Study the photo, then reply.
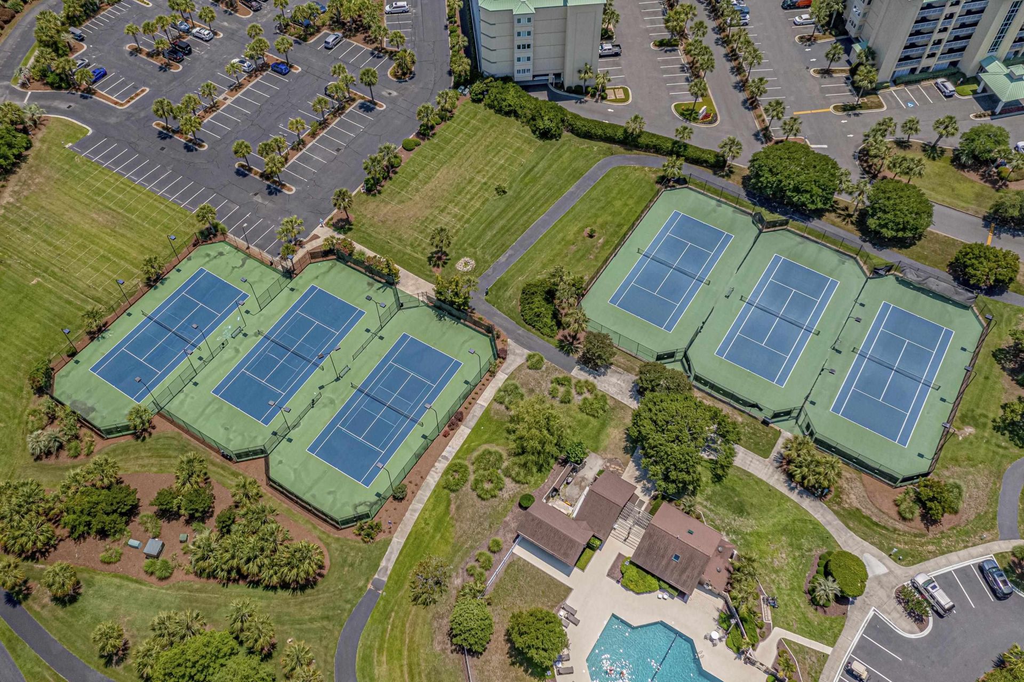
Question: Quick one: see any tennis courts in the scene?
Yes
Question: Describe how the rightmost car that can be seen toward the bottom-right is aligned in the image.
on a diagonal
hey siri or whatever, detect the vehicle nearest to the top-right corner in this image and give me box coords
[937,76,962,95]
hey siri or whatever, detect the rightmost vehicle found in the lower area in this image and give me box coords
[982,556,1018,596]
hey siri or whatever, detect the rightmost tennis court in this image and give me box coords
[796,275,982,488]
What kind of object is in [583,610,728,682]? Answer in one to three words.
swimming pool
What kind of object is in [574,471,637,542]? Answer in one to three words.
shed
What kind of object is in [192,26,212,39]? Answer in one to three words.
vehicle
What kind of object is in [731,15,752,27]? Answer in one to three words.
vehicle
